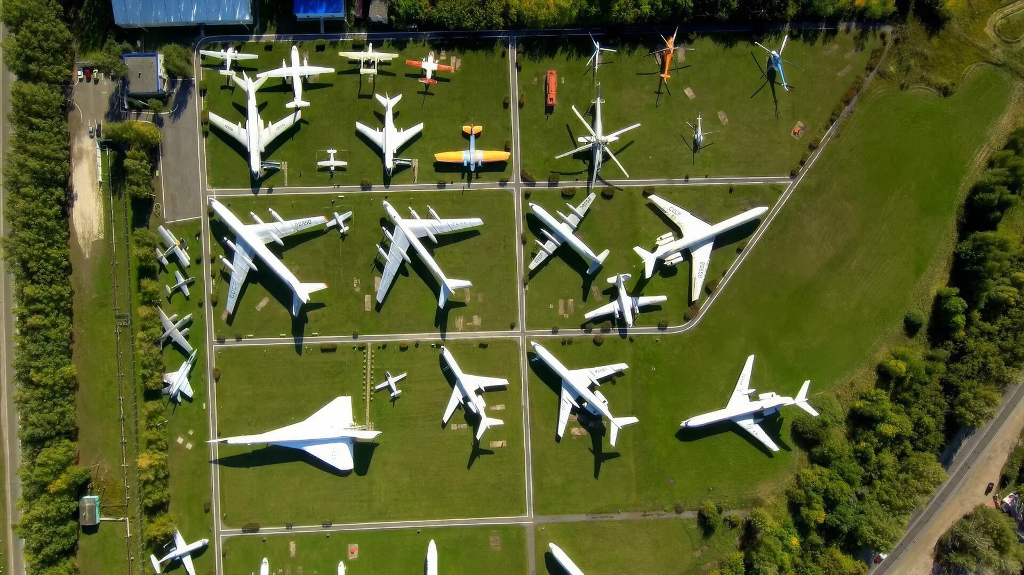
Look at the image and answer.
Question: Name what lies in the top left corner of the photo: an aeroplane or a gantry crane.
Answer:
aeroplane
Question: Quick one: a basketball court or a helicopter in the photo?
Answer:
helicopter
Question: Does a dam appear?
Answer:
No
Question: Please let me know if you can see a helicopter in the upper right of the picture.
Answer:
Yes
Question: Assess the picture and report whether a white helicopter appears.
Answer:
Yes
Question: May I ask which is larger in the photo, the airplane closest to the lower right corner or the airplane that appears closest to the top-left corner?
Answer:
the airplane closest to the lower right corner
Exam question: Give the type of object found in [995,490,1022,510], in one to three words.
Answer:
house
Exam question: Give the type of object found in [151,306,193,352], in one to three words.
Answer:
airplane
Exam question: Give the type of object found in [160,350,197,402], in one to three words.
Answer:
airplane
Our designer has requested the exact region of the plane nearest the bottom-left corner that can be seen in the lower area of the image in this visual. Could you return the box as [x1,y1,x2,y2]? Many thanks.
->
[153,521,209,575]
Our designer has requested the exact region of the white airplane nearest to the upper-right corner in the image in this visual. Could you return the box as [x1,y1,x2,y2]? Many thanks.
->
[632,195,768,302]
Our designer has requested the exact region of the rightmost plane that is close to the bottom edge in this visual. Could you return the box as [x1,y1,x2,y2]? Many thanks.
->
[549,543,583,575]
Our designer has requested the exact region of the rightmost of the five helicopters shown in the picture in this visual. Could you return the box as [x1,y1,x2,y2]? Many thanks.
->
[755,35,803,90]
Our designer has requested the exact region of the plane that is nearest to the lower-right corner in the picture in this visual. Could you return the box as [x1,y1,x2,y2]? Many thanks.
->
[680,356,818,452]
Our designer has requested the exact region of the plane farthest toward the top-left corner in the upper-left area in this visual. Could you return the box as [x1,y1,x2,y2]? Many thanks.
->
[201,48,259,76]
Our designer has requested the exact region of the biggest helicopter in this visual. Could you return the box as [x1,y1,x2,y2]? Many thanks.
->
[555,82,640,186]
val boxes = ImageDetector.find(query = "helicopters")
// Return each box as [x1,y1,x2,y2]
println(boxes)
[587,32,617,72]
[643,27,694,85]
[555,82,640,186]
[687,115,718,154]
[755,35,803,90]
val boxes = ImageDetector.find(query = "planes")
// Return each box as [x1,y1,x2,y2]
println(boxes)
[549,543,583,575]
[165,271,196,297]
[251,557,279,575]
[151,306,193,352]
[371,201,485,309]
[407,52,453,84]
[317,148,347,171]
[339,44,399,76]
[153,521,209,575]
[680,356,818,452]
[325,212,352,234]
[257,46,335,106]
[434,124,510,171]
[157,225,189,267]
[338,561,345,575]
[425,539,439,575]
[356,89,423,175]
[201,48,259,76]
[374,371,407,396]
[442,346,509,440]
[210,198,326,321]
[632,195,768,302]
[531,341,639,448]
[529,193,610,274]
[585,273,667,327]
[160,350,197,402]
[207,69,299,179]
[207,394,379,470]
